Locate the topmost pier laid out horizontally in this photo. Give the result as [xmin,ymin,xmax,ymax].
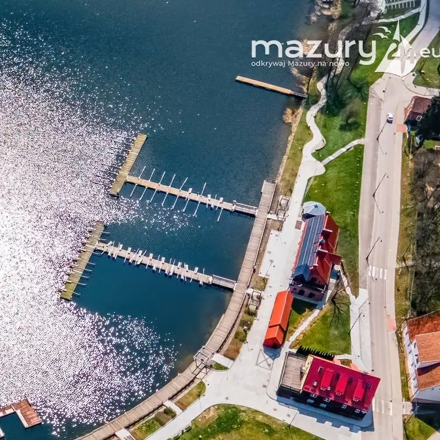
[236,77,308,98]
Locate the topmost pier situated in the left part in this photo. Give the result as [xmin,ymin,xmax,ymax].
[92,134,257,223]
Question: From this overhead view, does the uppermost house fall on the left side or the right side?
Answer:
right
